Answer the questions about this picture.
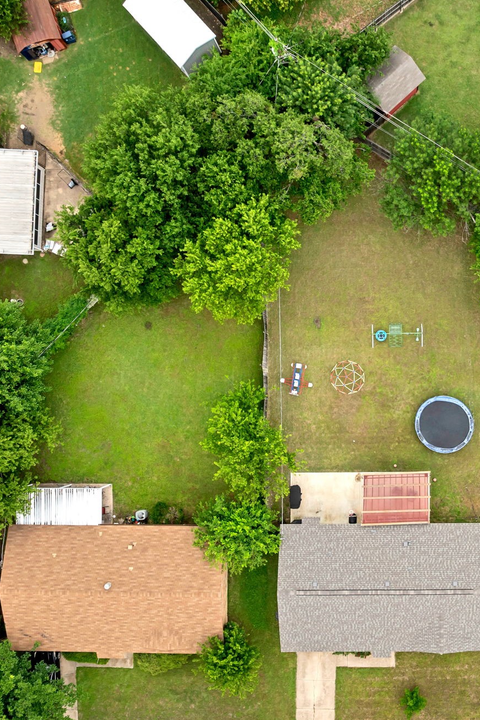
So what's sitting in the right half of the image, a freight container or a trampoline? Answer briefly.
trampoline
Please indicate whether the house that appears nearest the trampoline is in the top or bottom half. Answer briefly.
bottom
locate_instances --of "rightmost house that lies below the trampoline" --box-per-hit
[275,517,480,657]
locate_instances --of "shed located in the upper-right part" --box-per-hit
[361,45,426,120]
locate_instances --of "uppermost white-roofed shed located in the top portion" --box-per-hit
[121,0,216,77]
